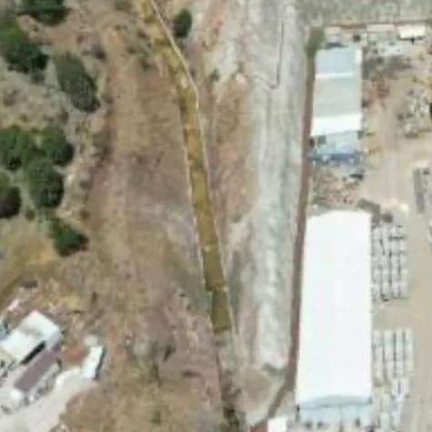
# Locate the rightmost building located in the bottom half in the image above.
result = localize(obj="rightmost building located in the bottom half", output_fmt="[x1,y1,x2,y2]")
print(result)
[297,209,372,419]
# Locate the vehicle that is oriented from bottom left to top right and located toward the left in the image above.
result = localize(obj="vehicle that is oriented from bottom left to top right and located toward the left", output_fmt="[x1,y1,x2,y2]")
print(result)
[40,366,76,398]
